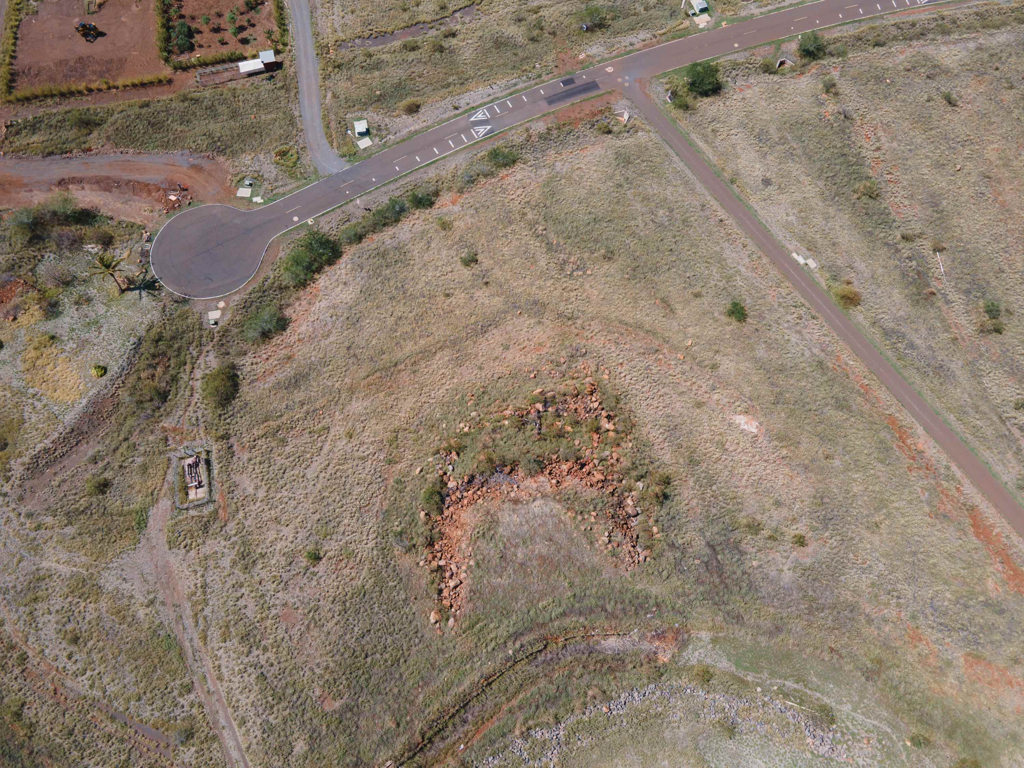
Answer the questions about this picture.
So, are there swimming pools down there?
No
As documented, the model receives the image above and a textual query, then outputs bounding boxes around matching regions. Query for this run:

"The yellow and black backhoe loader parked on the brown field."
[73,11,100,44]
